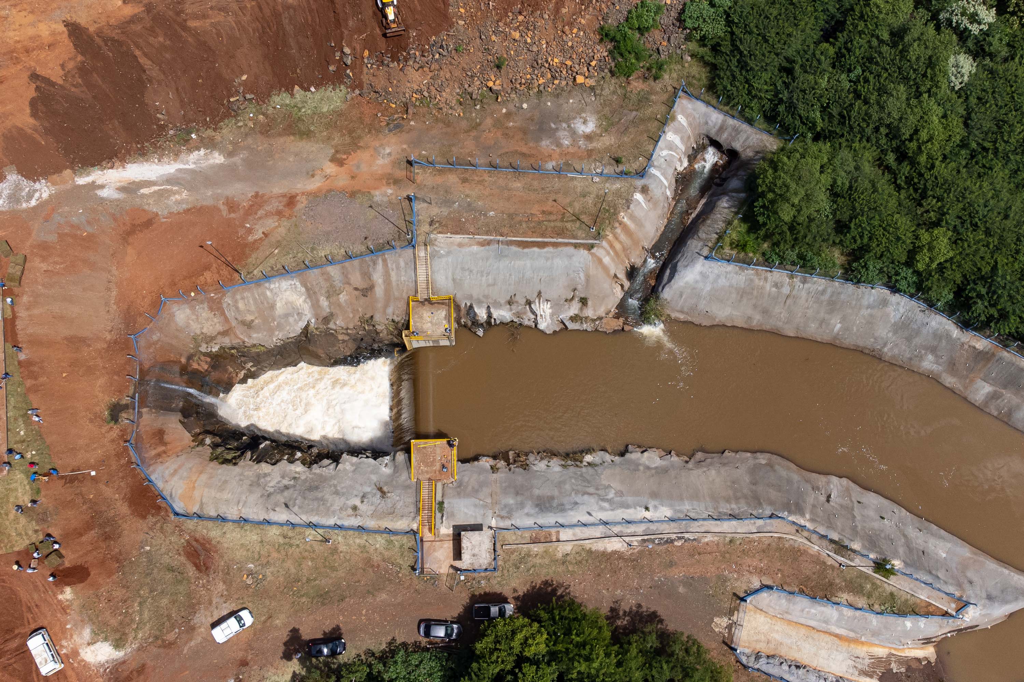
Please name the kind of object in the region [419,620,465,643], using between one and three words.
car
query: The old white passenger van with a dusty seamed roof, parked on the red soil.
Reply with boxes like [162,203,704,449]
[26,627,65,679]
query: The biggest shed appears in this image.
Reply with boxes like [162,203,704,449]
[461,531,494,568]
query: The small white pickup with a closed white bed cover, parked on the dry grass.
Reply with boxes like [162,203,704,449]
[210,608,257,646]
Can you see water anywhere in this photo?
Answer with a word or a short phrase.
Yes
